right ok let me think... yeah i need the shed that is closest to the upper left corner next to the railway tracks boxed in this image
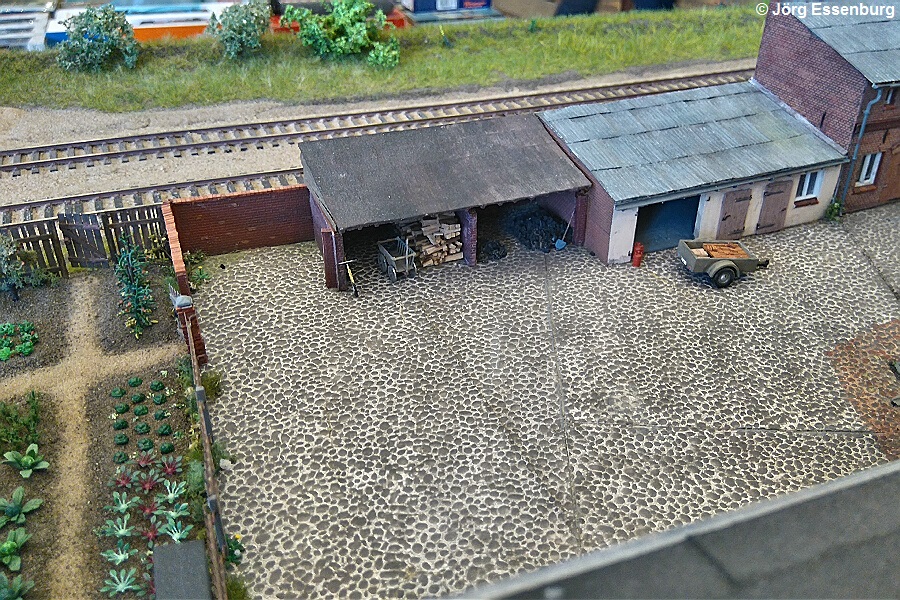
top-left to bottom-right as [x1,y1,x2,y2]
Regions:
[295,112,590,294]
